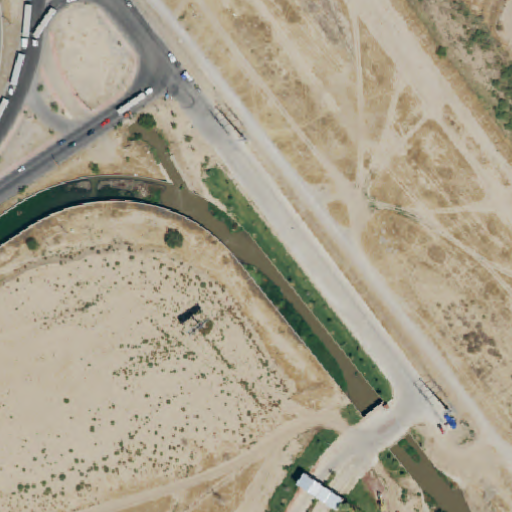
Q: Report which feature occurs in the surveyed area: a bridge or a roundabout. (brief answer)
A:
bridge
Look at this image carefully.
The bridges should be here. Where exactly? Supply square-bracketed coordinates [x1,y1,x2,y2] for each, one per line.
[362,400,408,450]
